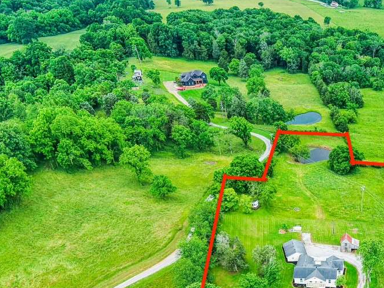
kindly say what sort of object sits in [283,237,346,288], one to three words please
house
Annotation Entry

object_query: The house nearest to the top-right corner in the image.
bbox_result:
[176,72,209,89]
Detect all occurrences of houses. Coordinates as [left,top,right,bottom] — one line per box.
[283,237,346,288]
[176,72,209,89]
